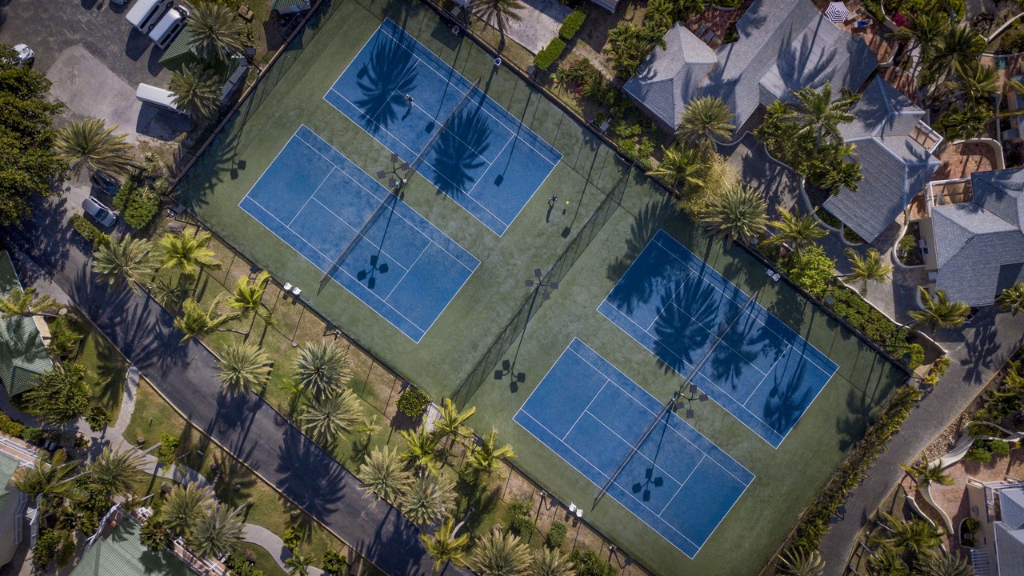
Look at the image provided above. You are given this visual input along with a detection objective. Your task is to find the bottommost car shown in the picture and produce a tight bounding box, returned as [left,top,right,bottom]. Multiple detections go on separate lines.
[81,194,124,230]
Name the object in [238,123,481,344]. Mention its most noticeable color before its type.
blue tennis court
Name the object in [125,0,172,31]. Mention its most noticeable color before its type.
white van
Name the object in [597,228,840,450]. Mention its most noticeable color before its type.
blue tennis court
